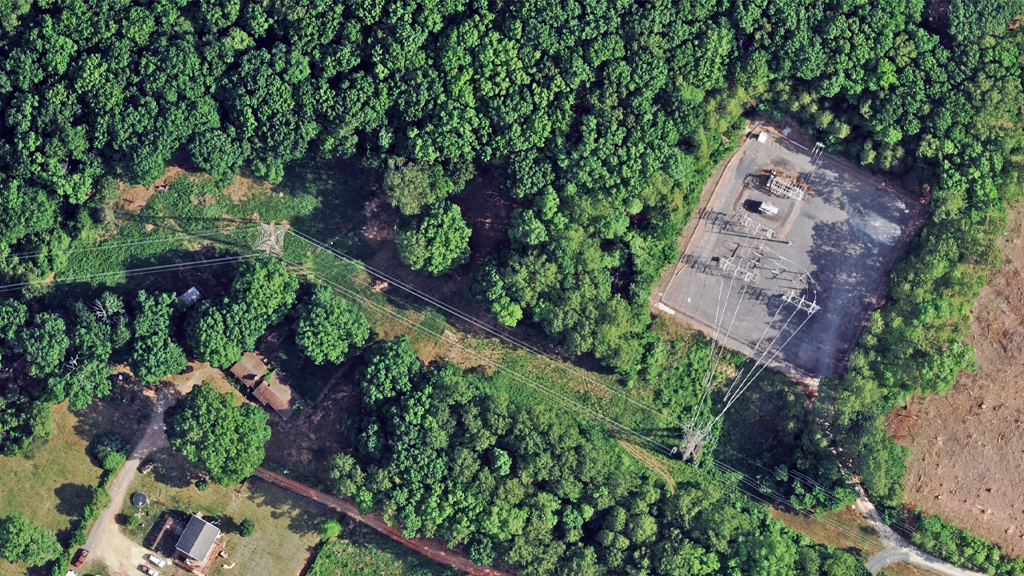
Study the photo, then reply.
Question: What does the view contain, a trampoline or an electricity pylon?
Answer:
electricity pylon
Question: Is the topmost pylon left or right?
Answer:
left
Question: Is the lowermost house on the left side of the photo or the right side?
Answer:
left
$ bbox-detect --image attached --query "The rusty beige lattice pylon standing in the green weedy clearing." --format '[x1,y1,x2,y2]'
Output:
[251,218,290,258]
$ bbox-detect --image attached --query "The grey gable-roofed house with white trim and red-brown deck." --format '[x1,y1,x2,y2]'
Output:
[151,516,220,573]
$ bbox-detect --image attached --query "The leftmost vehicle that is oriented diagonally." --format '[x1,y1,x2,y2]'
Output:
[74,549,88,568]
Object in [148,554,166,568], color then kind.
white car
